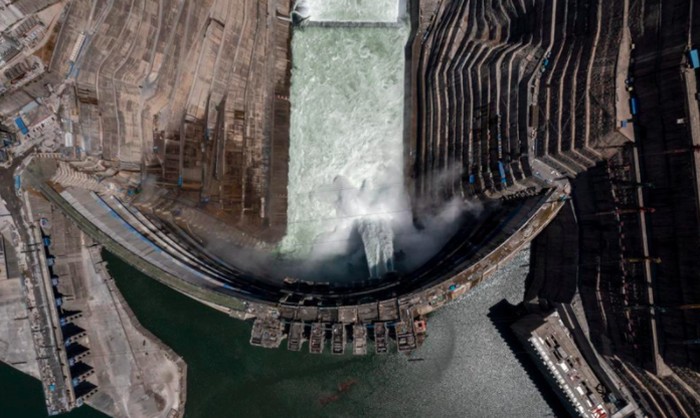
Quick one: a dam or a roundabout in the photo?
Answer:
dam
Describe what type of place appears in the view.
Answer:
port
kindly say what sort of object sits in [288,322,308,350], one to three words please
pier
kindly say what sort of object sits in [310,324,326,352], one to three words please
pier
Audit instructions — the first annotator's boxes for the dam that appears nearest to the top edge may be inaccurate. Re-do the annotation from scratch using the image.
[283,0,409,34]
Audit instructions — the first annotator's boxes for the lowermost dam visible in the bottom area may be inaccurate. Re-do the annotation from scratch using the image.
[40,179,569,354]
